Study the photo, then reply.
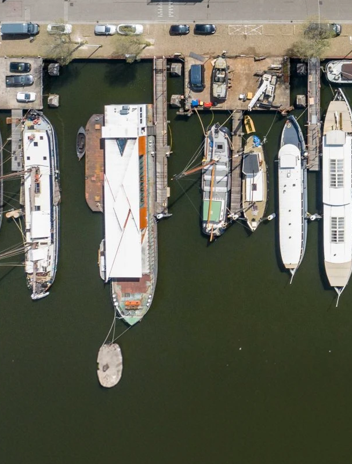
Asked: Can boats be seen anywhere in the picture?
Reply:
Yes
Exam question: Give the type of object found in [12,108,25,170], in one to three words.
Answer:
pier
